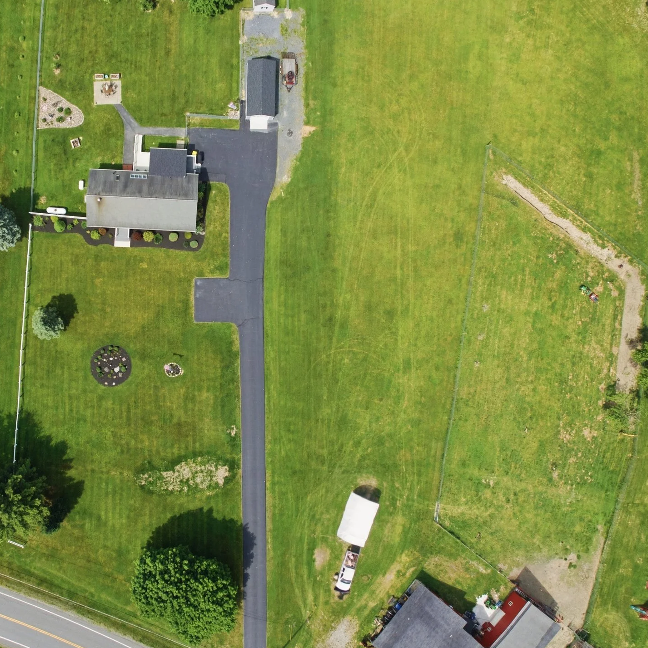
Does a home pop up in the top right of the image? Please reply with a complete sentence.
No, no home can be made out in the top right of the image.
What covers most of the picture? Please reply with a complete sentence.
Most of the picture is covered by grass.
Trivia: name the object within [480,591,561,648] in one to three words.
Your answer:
barn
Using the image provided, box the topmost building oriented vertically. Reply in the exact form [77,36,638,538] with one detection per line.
[246,58,276,130]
